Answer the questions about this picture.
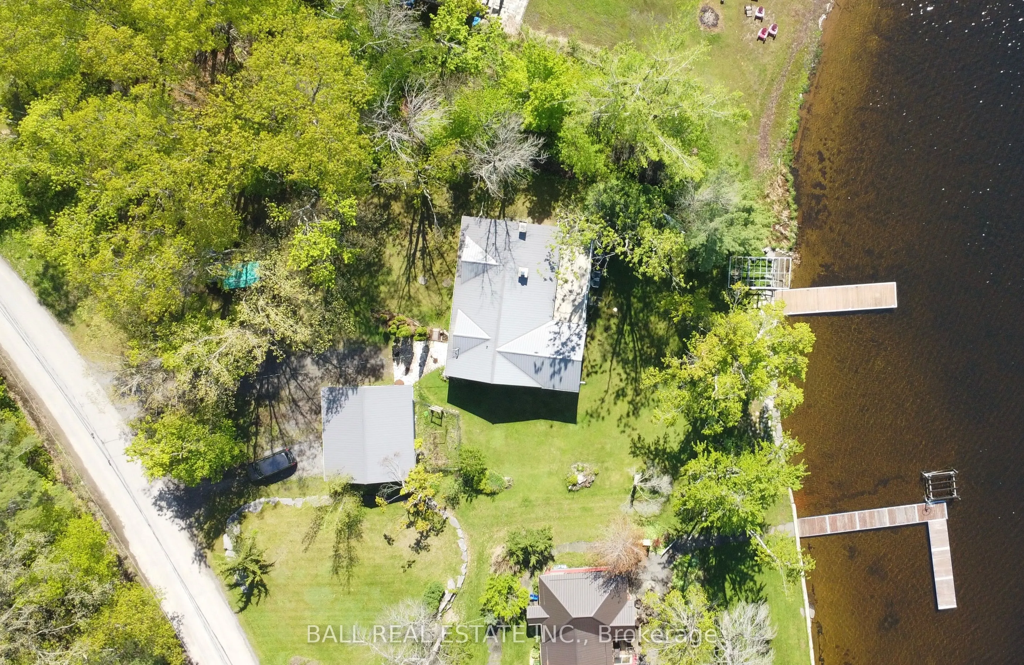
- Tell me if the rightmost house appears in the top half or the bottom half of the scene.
bottom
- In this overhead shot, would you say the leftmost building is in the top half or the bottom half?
bottom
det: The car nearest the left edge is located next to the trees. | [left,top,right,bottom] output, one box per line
[245,452,296,486]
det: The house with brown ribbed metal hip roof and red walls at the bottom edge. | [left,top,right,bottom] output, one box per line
[527,567,637,665]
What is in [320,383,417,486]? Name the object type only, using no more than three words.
building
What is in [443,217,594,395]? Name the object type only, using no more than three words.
house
